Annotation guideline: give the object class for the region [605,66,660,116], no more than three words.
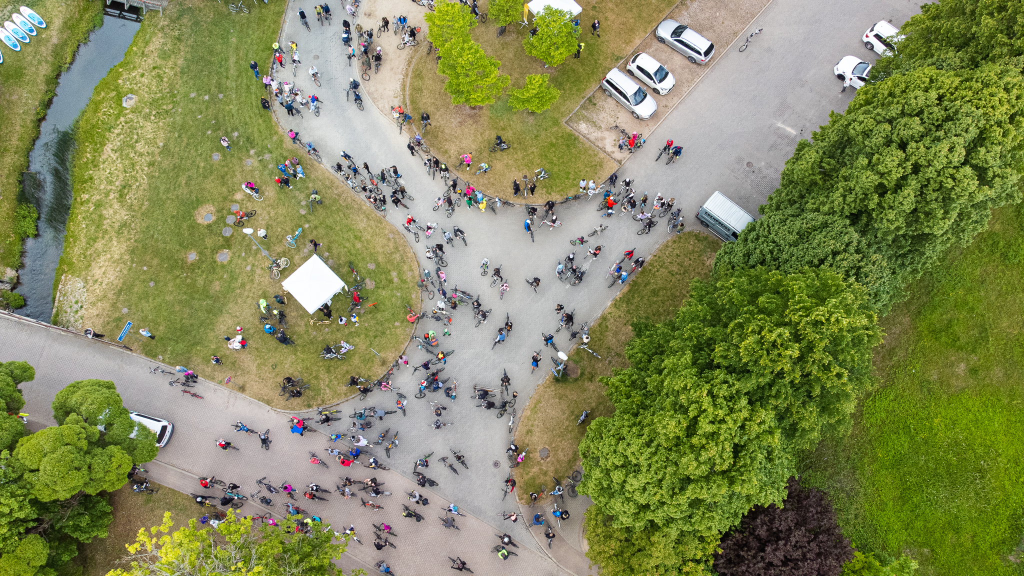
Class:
car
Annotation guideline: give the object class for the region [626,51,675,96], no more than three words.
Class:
car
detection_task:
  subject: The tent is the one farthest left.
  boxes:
[280,254,354,326]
